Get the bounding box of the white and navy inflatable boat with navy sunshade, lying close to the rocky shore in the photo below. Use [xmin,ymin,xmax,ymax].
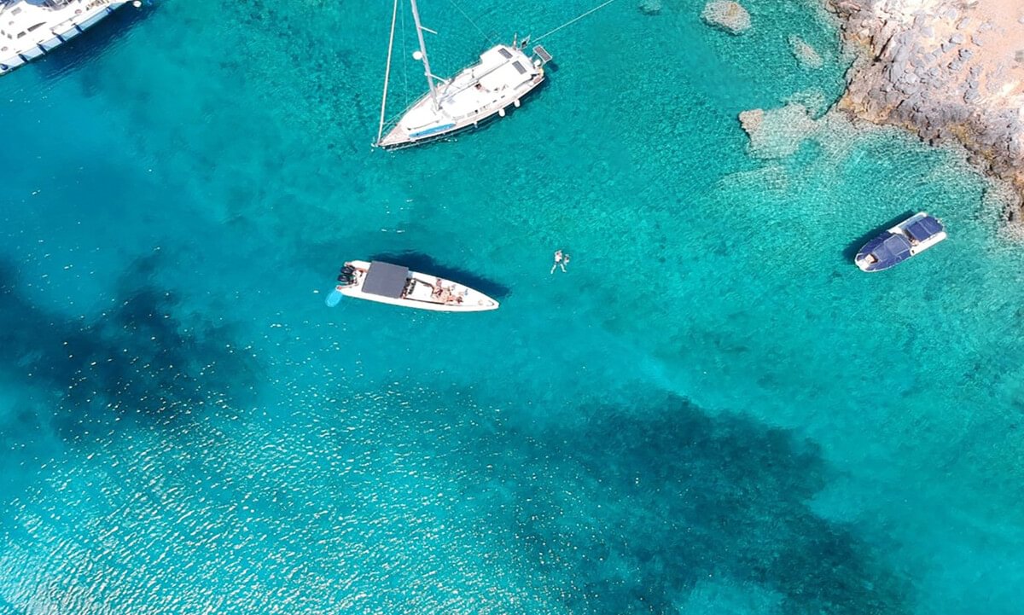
[858,210,943,273]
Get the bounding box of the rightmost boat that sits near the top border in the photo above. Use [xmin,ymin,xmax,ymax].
[373,0,552,151]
